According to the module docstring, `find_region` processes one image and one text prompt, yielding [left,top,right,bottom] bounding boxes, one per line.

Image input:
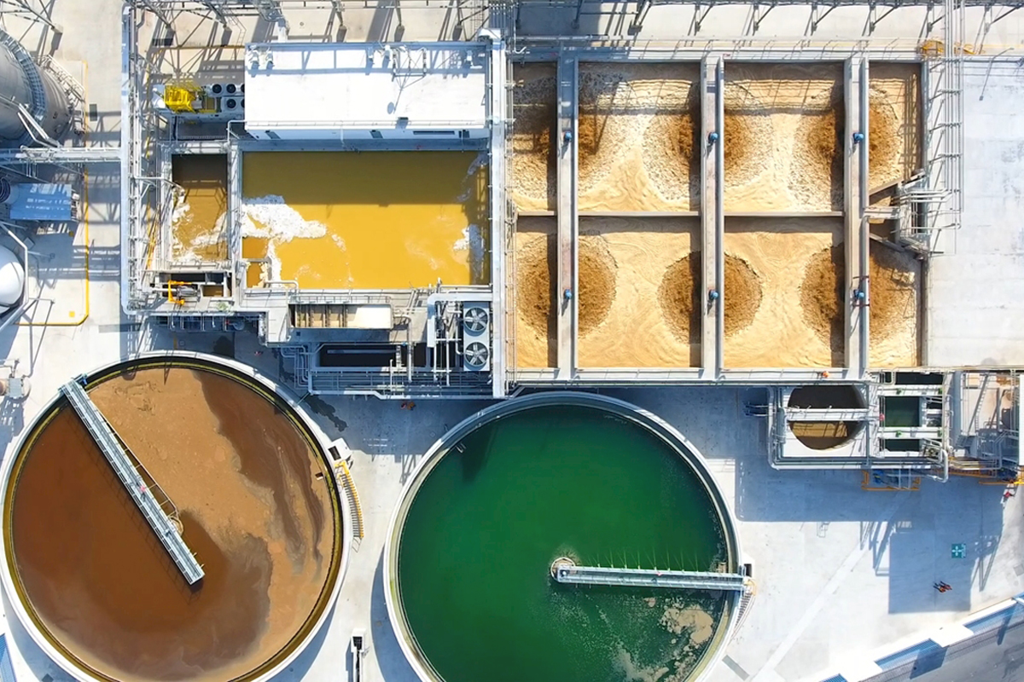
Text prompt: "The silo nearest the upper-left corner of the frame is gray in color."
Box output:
[0,21,86,149]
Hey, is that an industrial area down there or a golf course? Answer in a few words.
industrial area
